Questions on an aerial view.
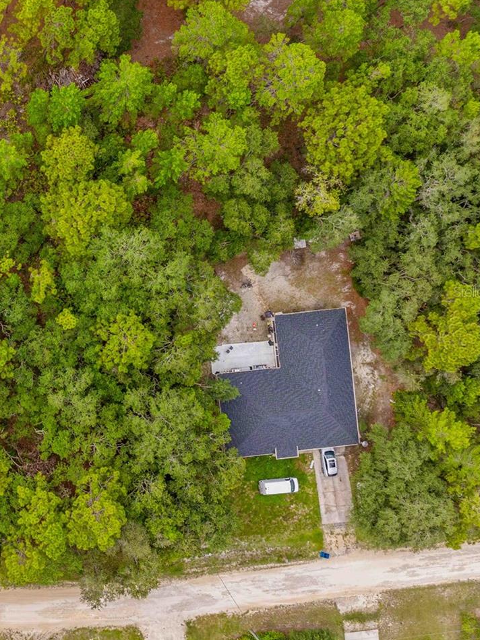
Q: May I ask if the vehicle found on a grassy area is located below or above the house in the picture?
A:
below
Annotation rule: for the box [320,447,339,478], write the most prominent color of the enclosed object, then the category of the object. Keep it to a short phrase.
white car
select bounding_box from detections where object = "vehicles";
[320,447,339,478]
[255,476,298,496]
